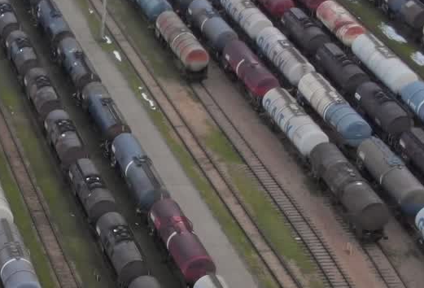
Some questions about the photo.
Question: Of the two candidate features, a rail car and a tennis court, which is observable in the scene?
rail car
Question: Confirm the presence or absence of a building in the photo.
No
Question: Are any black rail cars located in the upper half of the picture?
Yes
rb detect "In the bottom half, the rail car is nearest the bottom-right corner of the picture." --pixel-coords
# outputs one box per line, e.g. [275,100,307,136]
[403,207,424,257]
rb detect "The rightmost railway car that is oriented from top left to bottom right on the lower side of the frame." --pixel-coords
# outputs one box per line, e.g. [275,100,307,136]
[347,135,424,234]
